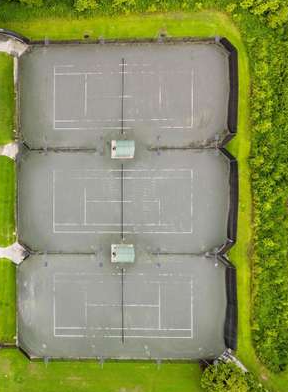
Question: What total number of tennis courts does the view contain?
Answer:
three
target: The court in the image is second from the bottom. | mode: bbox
[20,148,230,253]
